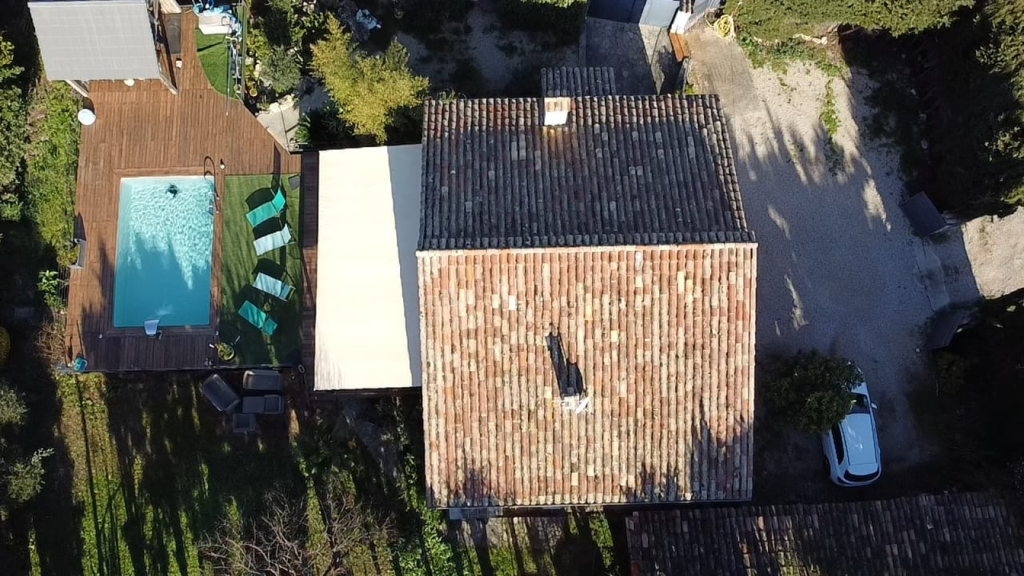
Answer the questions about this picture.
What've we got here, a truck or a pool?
pool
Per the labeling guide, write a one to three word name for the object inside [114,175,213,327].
swimming pool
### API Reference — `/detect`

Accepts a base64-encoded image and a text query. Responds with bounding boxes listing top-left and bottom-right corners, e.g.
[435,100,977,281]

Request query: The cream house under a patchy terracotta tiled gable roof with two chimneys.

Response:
[416,63,760,519]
